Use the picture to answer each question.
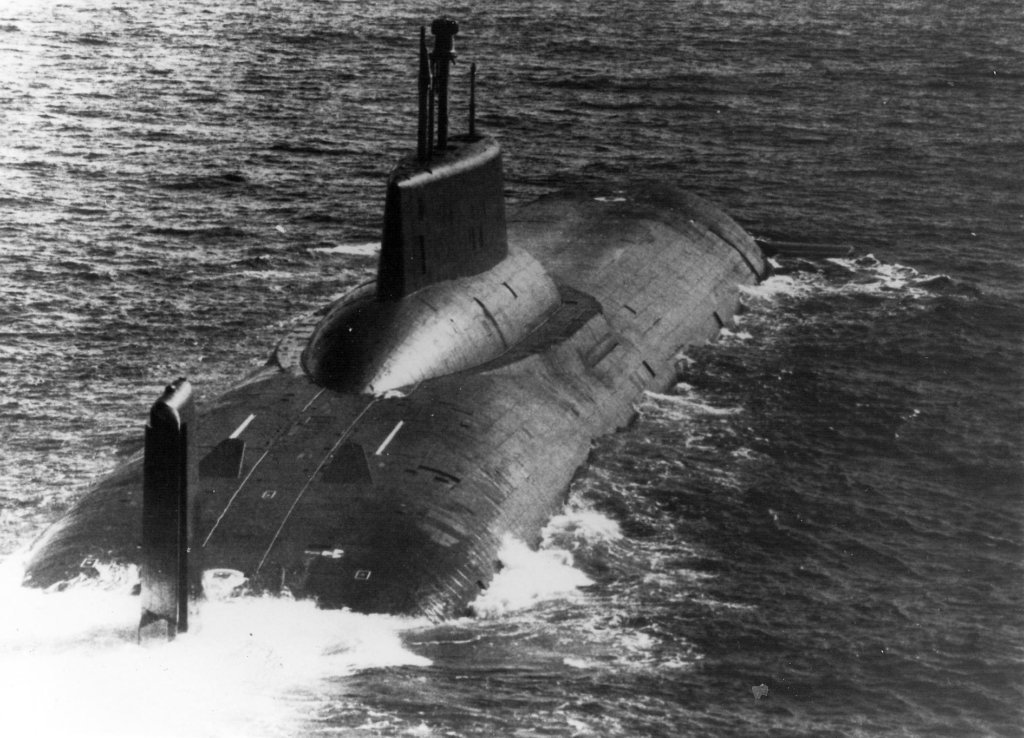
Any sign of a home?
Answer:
No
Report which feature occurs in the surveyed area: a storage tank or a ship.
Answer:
ship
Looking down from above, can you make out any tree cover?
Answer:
No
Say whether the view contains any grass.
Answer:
No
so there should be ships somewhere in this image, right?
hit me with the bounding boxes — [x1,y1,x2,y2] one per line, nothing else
[10,19,770,632]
